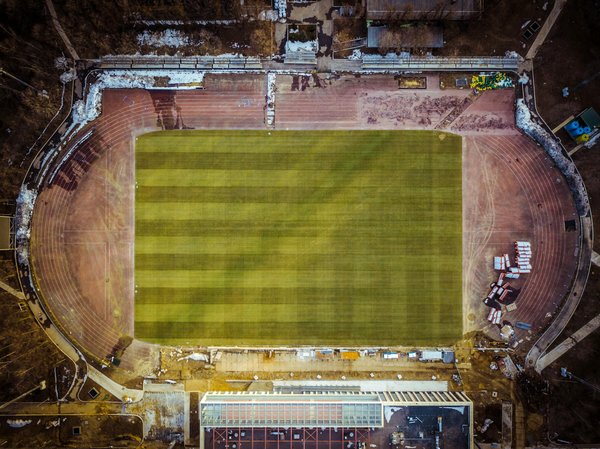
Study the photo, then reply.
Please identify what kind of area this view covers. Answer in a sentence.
The area seen from above is a sports ground.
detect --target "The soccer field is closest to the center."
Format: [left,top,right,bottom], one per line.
[132,128,465,348]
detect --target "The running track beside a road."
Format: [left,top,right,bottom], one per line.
[30,75,580,377]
